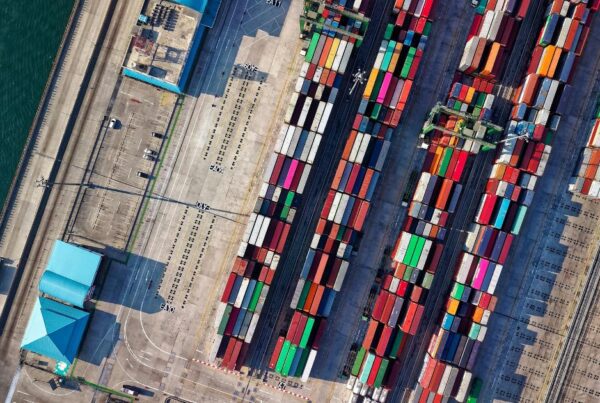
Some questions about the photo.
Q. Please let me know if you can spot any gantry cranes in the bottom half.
No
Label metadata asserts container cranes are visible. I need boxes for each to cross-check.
[299,0,373,60]
[412,103,504,159]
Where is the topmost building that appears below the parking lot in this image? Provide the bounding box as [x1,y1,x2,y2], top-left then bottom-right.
[38,239,111,308]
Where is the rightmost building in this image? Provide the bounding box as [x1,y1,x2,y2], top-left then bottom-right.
[124,0,222,95]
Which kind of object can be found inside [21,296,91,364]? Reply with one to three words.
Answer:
building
